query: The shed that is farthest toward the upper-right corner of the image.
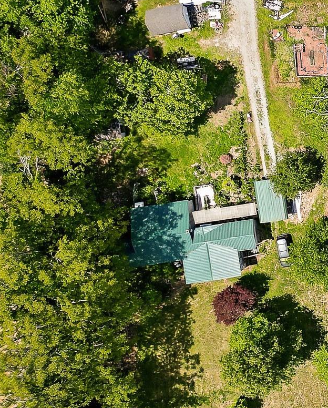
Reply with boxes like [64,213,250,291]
[145,4,194,37]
